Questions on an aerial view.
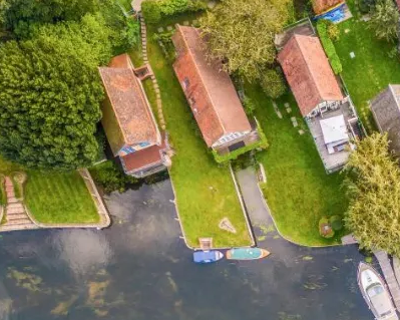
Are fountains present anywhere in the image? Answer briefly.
No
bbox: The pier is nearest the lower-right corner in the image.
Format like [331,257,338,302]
[374,247,400,311]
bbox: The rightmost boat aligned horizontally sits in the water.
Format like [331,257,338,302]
[226,245,270,261]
